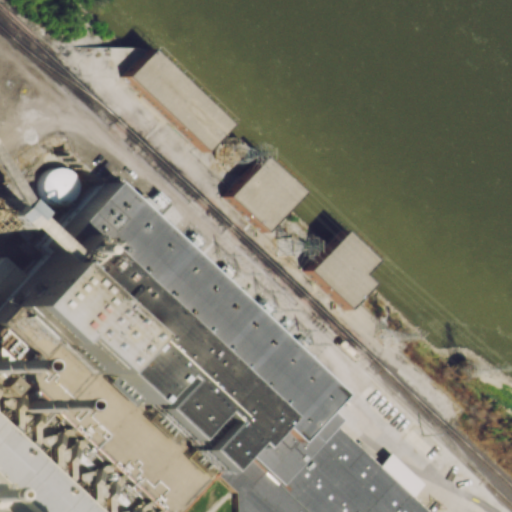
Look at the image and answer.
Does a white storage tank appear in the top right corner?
No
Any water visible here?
Yes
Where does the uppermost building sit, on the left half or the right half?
left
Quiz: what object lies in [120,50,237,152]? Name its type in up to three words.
building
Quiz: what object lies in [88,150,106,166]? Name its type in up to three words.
vehicle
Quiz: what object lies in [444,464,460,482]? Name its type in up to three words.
vehicle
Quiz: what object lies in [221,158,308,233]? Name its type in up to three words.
building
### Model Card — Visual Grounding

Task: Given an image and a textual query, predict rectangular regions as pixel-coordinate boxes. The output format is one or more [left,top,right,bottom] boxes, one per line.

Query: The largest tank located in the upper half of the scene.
[35,168,82,208]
